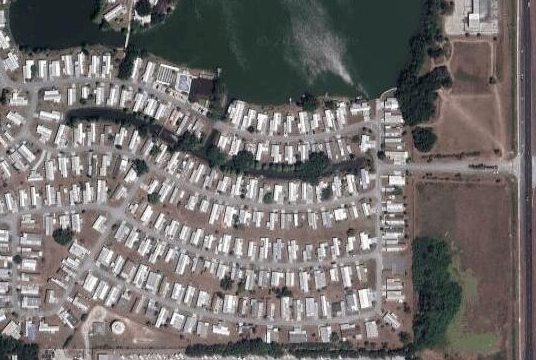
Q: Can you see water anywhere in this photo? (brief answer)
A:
Yes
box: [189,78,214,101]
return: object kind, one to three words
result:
building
